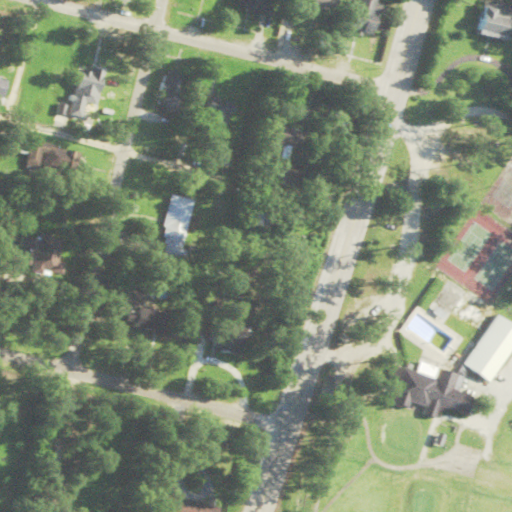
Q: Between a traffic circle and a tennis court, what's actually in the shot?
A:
tennis court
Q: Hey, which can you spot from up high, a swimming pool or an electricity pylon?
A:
swimming pool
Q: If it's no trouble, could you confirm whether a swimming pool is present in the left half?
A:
No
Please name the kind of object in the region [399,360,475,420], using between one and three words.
building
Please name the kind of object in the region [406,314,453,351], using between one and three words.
swimming pool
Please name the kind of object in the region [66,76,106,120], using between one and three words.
house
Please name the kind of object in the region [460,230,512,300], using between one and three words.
tennis court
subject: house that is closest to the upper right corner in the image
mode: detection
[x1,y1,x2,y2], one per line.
[476,6,512,38]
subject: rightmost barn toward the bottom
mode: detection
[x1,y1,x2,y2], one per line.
[462,314,512,383]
